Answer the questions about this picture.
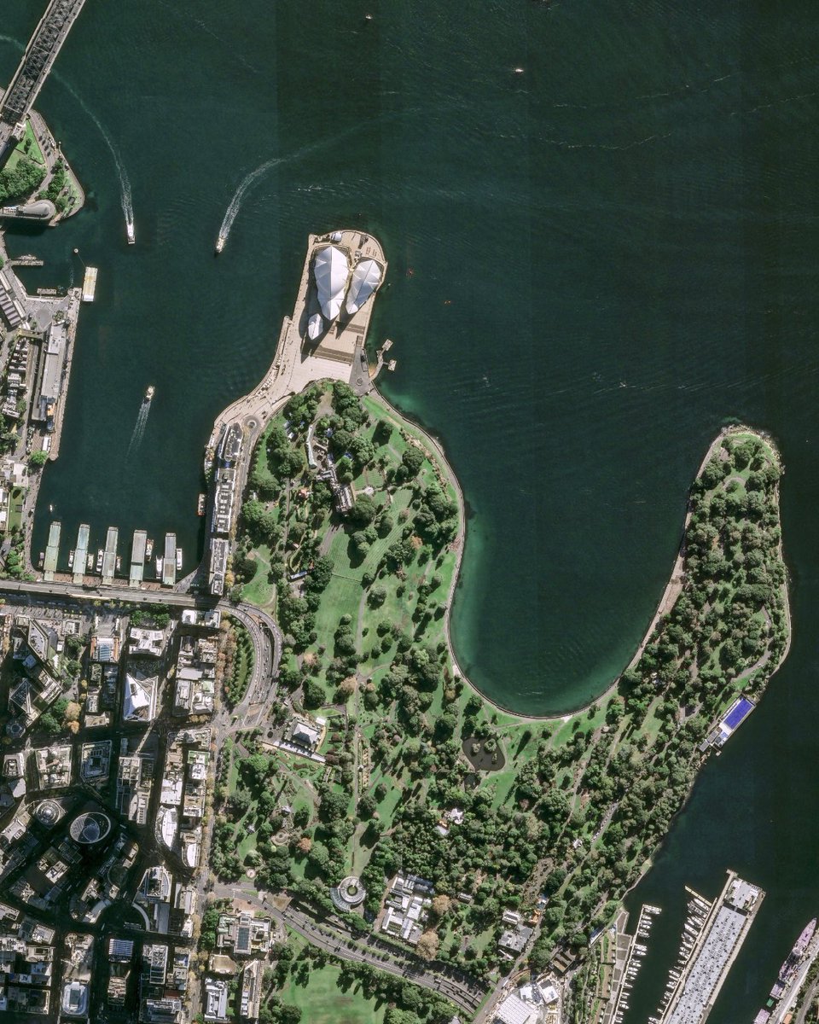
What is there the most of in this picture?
water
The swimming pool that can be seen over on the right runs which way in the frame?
at an angle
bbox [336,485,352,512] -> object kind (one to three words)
house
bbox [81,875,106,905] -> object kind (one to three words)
building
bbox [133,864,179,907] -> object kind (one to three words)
building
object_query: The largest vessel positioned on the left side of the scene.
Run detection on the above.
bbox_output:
[82,267,98,302]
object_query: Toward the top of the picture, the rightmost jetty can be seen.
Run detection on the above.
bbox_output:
[371,339,396,381]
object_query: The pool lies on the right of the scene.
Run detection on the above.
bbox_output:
[701,694,756,756]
